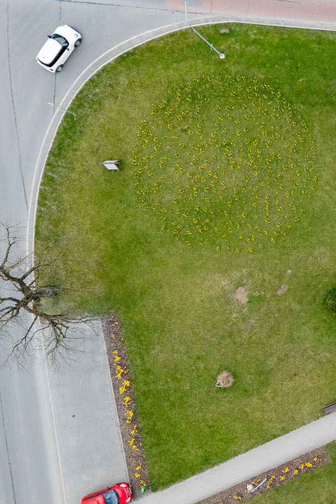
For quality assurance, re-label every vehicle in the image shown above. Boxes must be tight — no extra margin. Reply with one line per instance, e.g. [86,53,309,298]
[78,480,137,504]
[37,26,81,75]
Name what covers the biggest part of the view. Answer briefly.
grass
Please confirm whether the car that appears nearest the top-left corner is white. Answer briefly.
Yes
